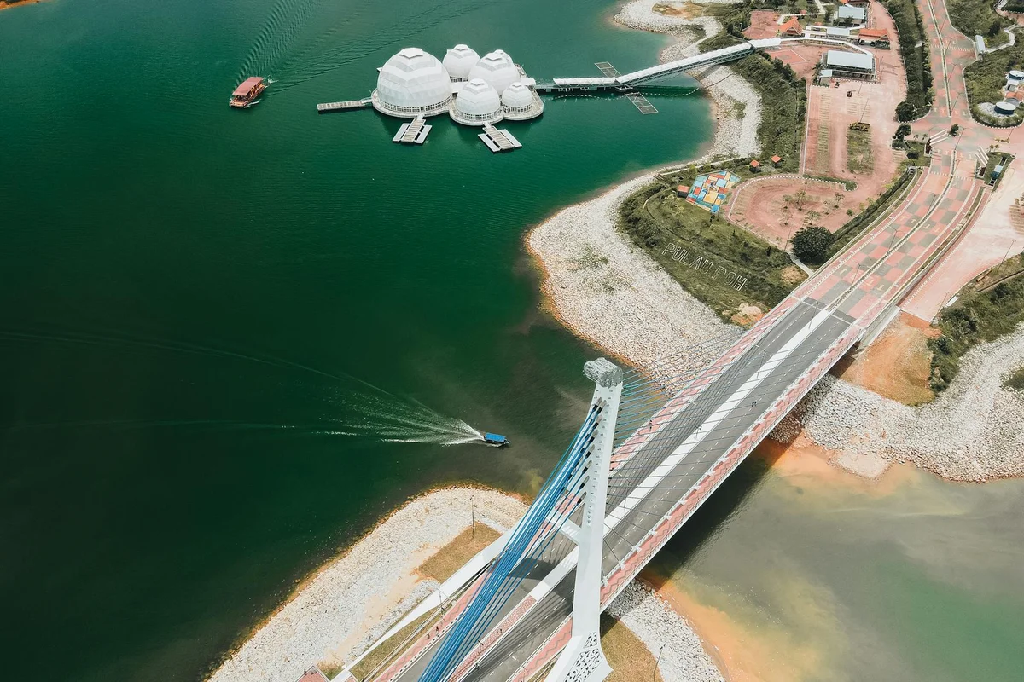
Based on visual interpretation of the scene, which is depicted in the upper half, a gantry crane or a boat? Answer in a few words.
boat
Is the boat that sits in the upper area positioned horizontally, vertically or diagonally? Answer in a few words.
diagonally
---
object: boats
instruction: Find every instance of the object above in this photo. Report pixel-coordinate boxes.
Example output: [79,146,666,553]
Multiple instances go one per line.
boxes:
[233,79,265,105]
[484,434,510,446]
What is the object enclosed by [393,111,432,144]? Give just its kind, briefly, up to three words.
pier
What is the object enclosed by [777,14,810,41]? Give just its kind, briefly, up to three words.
building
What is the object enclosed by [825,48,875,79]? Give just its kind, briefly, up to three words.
building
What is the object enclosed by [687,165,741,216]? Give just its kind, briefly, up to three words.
playground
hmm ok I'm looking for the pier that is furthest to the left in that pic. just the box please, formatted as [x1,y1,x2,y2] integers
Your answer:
[317,96,376,111]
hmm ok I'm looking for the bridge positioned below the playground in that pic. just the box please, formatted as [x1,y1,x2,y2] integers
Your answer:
[356,292,865,682]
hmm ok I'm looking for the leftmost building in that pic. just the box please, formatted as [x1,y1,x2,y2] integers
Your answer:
[370,43,545,128]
